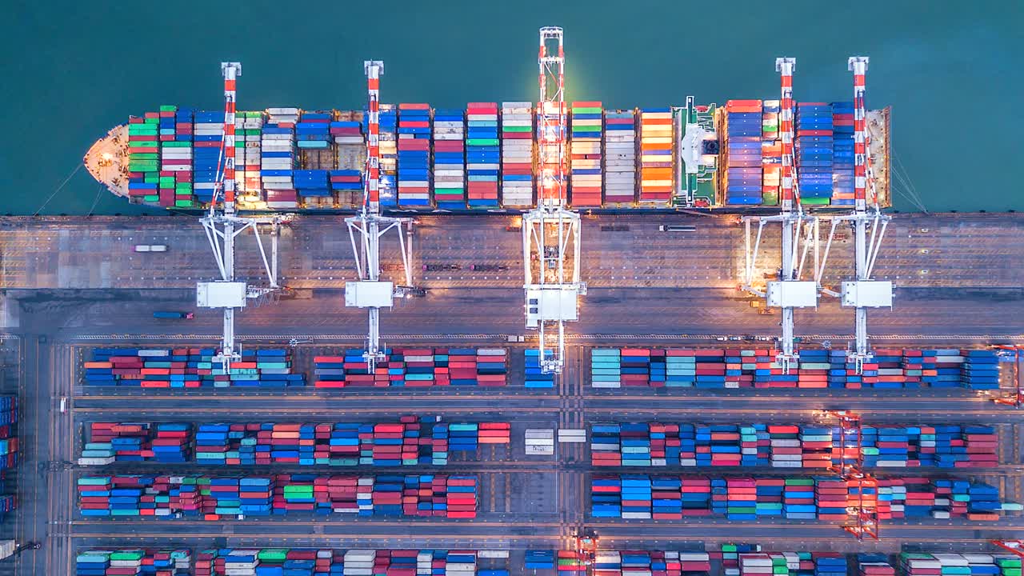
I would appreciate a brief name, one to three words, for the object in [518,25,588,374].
container crane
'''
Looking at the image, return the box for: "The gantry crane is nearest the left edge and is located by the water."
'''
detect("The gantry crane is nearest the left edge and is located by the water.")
[197,64,293,373]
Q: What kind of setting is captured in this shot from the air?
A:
port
